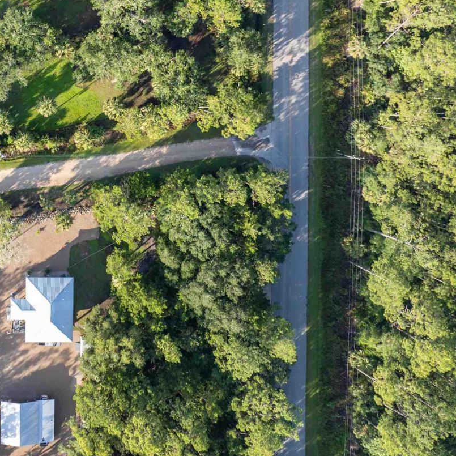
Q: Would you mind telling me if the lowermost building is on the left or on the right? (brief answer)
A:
left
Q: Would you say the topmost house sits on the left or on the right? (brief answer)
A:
left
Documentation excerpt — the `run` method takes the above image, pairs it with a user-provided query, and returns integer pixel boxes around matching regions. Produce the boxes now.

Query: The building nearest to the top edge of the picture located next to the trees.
[0,270,73,343]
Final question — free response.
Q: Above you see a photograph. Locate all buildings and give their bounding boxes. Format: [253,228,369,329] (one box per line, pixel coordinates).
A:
[0,396,55,450]
[0,270,73,343]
